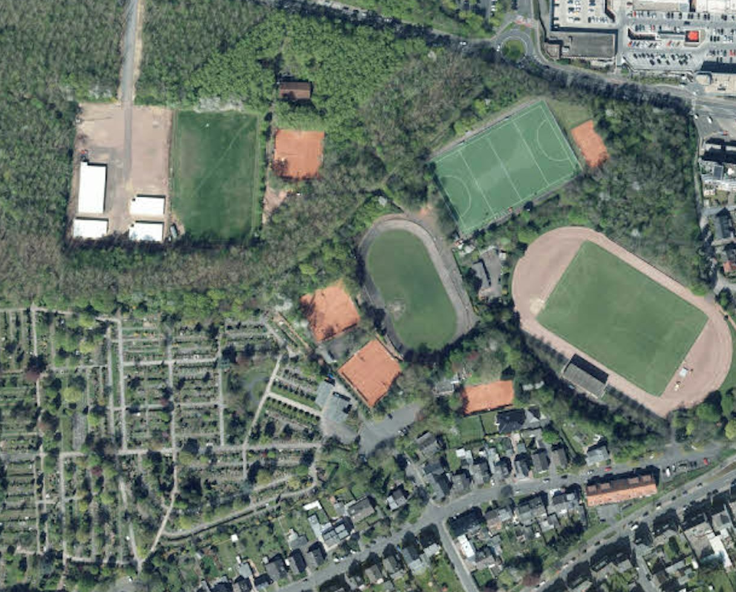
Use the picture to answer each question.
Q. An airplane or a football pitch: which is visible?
football pitch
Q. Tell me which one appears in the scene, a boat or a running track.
running track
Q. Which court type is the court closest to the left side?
tennis court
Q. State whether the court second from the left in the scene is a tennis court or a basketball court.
tennis court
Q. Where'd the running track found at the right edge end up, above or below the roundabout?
below it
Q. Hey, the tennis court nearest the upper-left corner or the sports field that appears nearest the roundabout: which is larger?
the sports field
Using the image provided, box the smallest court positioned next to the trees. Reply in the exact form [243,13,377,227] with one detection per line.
[573,121,607,167]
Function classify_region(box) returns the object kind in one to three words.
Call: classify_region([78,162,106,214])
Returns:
building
